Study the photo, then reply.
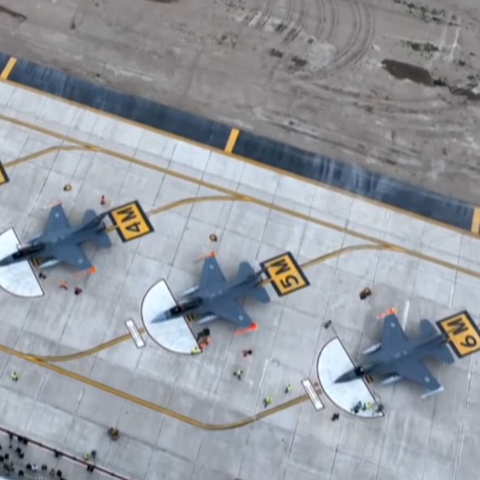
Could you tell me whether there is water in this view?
No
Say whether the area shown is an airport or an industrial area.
airport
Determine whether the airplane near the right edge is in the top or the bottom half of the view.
bottom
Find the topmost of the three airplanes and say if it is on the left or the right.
left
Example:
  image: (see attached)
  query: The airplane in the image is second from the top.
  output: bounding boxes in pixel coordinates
[147,253,269,336]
